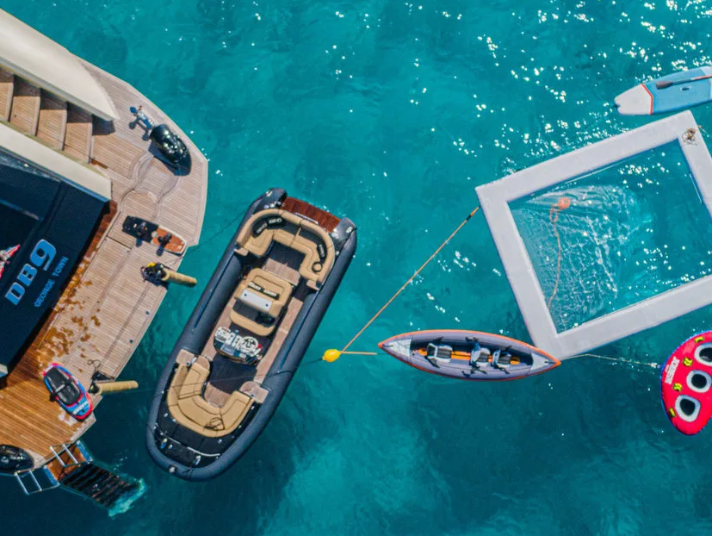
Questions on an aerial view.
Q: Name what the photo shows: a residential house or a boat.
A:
boat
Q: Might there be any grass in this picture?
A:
No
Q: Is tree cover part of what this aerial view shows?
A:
No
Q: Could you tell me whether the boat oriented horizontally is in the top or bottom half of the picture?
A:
bottom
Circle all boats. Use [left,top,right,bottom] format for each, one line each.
[0,8,212,509]
[146,186,359,481]
[374,325,563,379]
